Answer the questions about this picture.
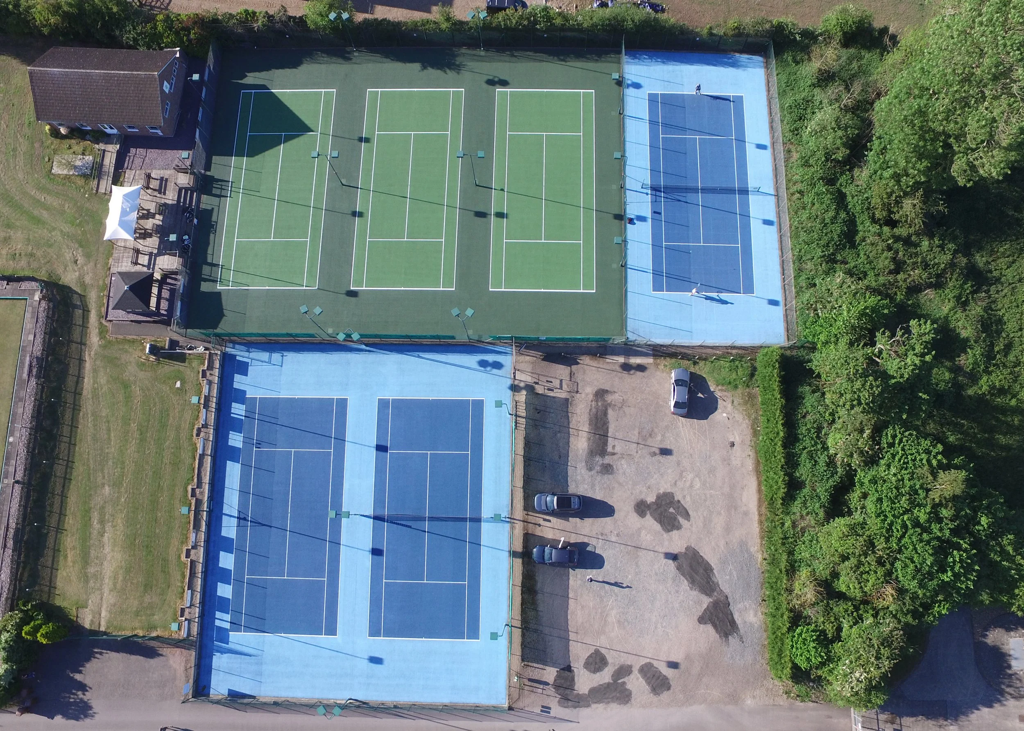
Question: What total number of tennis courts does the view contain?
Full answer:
I count 6 tennis courts.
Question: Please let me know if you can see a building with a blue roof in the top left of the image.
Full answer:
No, in the top left of the image there is no building with a blue roof.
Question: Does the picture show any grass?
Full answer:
Yes, the picture does contain grass.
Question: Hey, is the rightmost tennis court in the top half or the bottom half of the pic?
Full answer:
It is in the top half that the rightmost tennis court appears.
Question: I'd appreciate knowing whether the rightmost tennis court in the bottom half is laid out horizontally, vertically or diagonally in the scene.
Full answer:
The rightmost tennis court in the bottom half is laid out vertically.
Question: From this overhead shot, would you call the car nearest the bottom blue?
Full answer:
Yes, the car nearest the bottom appears blue.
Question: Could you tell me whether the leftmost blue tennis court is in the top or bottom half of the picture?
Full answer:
Seen from above, the leftmost blue tennis court lies in the bottom half of the view.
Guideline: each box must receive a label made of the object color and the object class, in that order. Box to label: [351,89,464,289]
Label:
green tennis court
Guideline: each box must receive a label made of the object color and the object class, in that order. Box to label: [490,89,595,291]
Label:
green tennis court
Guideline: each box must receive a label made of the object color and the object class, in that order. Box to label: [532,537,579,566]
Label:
blue car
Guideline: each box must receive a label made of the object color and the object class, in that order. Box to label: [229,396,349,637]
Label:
blue tennis court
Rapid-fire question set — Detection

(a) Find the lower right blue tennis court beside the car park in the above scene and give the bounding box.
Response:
[368,398,485,641]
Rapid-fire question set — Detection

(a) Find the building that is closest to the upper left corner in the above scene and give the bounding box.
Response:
[28,45,185,136]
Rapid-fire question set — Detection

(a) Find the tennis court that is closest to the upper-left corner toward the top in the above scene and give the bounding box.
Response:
[218,90,336,288]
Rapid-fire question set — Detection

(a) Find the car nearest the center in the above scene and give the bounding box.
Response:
[533,491,582,514]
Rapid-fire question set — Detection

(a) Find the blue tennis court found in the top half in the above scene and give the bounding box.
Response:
[648,92,755,294]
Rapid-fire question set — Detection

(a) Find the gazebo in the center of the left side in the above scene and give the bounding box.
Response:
[111,271,161,314]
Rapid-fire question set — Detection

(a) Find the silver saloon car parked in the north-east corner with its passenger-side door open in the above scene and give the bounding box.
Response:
[669,370,699,416]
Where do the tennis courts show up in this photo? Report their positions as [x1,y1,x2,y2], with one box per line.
[218,90,336,288]
[368,398,485,641]
[229,396,349,637]
[490,89,595,291]
[351,89,464,289]
[648,92,755,294]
